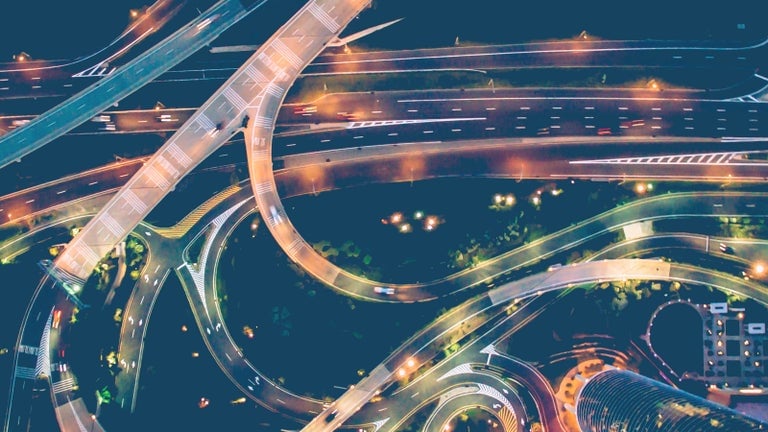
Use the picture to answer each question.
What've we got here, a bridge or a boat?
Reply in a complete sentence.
The image shows a bridge.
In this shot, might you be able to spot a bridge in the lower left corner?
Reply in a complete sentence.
Yes, looking in the lower left corner, one can make out a bridge.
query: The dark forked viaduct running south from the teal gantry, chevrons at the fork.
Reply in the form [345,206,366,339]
[2,265,104,432]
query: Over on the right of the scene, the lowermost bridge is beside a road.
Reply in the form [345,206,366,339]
[300,259,768,432]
